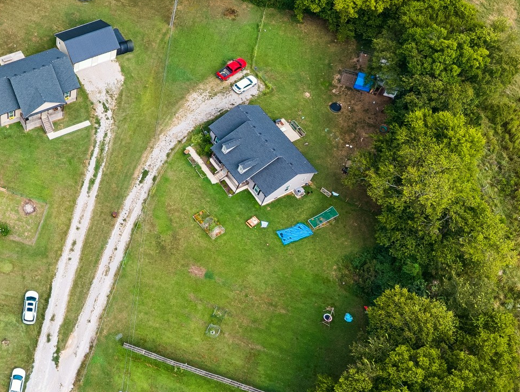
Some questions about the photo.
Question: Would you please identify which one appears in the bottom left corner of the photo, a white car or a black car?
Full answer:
There is a white car in the bottom left corner of the photo.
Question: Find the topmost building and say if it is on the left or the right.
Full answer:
It is on the left.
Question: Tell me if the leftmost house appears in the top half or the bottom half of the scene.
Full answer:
The leftmost house sits in the top half of the picture.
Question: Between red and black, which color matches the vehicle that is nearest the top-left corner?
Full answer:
The vehicle that is nearest the top-left corner is red.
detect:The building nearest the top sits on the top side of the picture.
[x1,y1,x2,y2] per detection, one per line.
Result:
[55,19,121,72]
